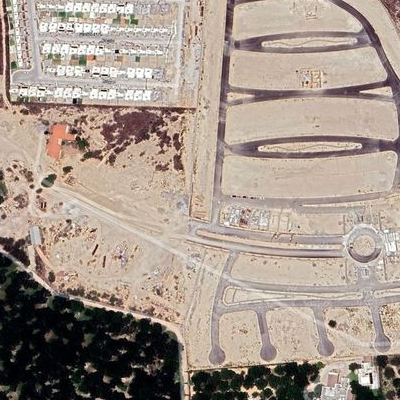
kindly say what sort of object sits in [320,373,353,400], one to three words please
house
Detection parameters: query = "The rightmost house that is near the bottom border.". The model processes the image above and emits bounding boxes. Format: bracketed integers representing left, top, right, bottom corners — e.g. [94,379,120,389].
[359,358,378,389]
